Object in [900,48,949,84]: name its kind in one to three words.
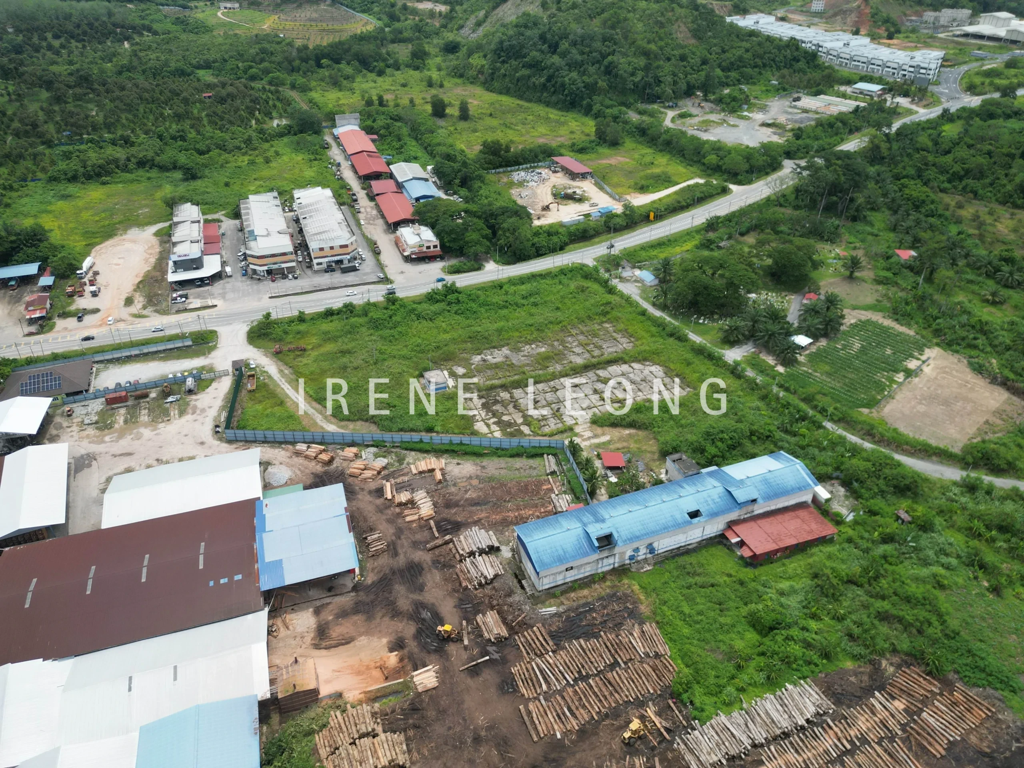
building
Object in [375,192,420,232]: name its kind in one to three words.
shed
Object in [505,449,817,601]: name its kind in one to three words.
warehouse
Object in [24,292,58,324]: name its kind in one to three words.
building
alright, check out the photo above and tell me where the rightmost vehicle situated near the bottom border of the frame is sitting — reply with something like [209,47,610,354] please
[620,714,656,744]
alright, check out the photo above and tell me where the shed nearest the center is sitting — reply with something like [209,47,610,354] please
[423,369,449,394]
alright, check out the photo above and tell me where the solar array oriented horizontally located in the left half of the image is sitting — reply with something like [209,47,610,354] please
[20,374,63,396]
